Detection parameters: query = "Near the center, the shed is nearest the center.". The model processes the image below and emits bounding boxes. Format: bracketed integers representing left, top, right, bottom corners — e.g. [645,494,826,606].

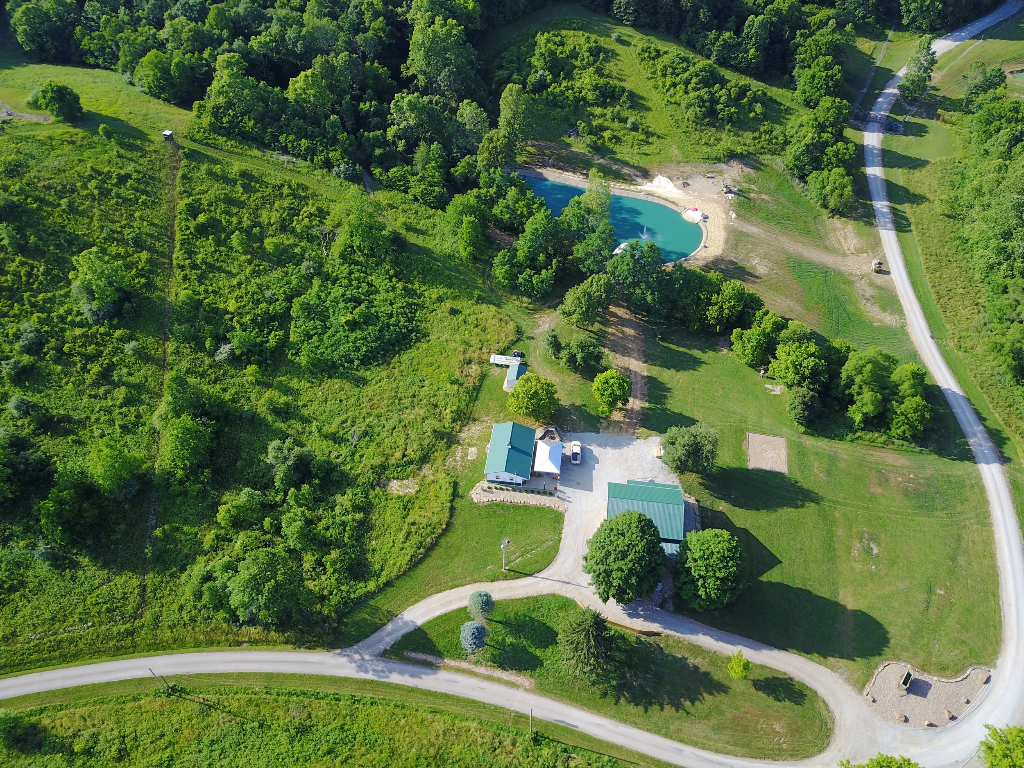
[507,363,527,388]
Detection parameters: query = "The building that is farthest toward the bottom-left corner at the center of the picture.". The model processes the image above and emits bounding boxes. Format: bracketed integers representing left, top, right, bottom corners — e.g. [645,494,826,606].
[483,421,537,485]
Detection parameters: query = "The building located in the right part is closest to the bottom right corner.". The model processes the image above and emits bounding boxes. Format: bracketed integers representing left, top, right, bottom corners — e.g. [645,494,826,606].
[606,481,684,568]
